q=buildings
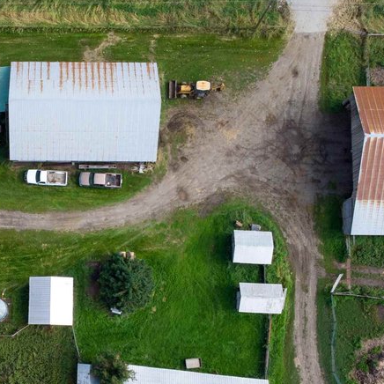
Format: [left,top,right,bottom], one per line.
[230,230,273,265]
[7,62,161,165]
[29,276,74,326]
[77,363,102,384]
[233,283,286,314]
[127,364,268,384]
[329,86,384,237]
